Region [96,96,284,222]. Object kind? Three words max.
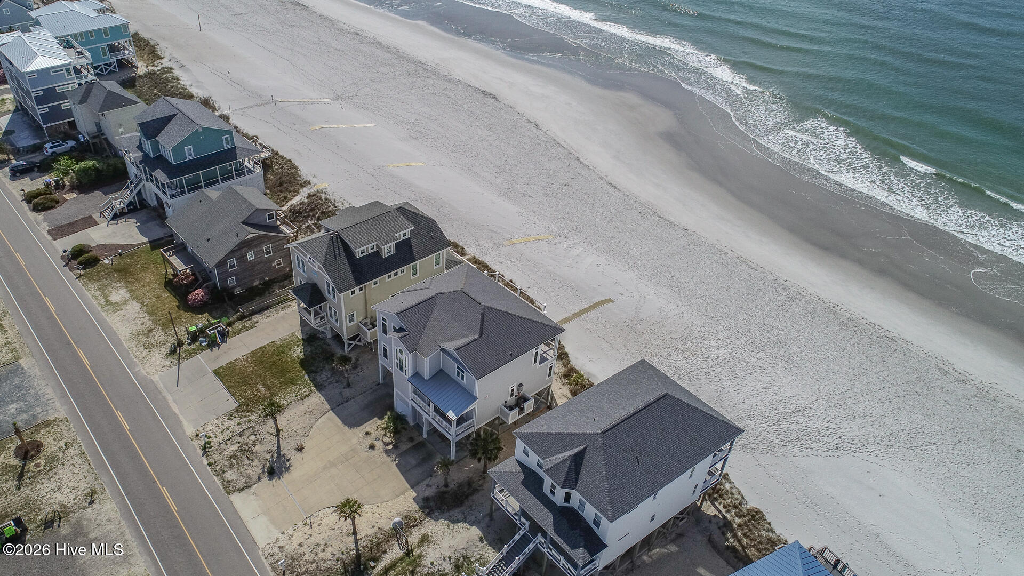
house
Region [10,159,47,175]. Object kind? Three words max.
car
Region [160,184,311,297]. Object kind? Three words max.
house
